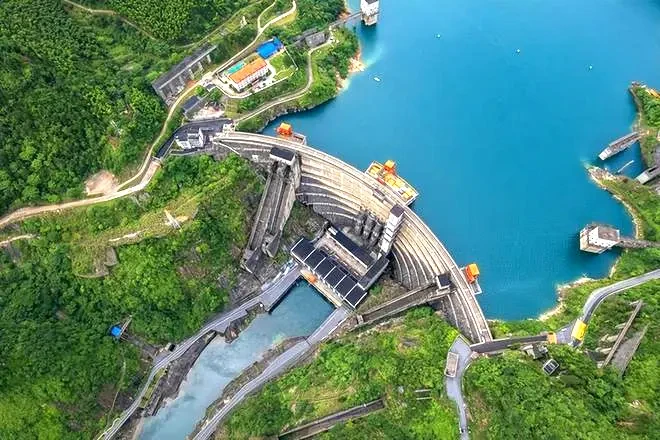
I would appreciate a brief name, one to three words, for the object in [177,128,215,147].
building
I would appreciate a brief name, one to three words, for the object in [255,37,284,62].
building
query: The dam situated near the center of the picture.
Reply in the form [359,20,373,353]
[213,130,492,341]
